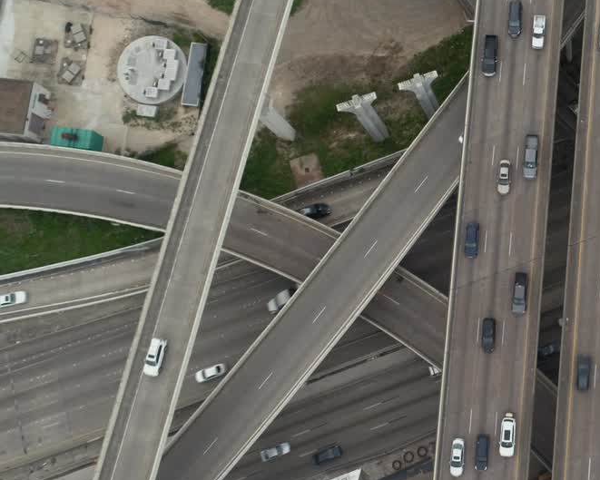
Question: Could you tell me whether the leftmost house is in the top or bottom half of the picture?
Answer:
top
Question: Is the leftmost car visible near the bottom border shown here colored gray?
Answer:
Yes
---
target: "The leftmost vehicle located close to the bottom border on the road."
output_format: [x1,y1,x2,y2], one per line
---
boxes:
[260,441,291,462]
